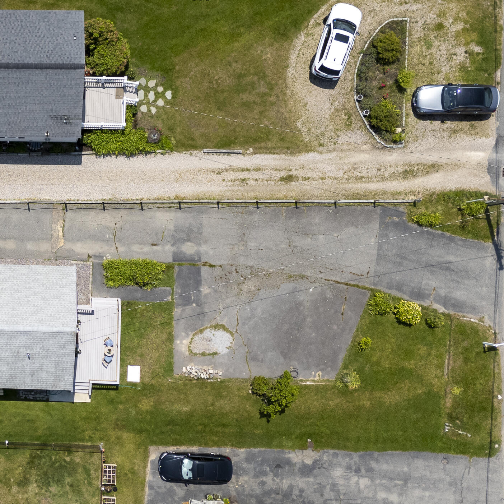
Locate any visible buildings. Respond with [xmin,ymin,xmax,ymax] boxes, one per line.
[0,265,76,391]
[0,9,85,143]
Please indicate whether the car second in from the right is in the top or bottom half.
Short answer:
top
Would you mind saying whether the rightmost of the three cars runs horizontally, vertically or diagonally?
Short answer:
horizontally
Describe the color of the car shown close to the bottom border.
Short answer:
black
